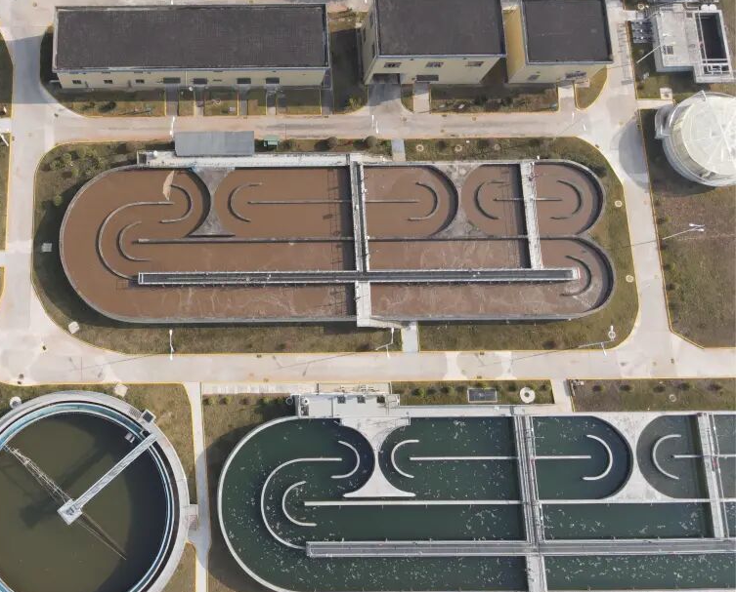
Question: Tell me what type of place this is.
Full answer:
It's an industrial area.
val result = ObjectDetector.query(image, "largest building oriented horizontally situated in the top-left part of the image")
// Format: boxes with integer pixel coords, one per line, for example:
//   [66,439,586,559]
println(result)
[54,2,334,103]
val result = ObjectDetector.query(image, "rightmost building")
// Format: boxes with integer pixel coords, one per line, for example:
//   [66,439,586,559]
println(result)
[505,0,612,94]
